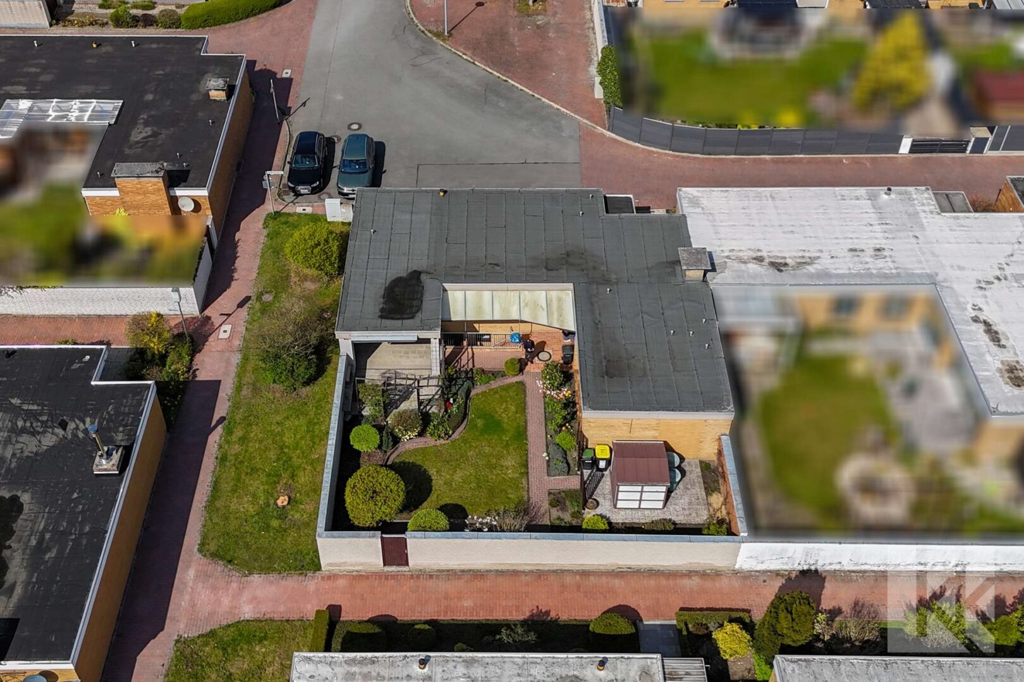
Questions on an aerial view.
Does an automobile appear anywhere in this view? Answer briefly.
Yes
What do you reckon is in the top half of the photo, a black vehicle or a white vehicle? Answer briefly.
black vehicle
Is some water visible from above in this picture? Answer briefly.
No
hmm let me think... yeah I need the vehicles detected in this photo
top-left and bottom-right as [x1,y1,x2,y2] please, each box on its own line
[286,131,329,192]
[334,132,376,197]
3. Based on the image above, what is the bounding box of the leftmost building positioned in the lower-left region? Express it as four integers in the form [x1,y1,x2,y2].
[0,344,164,682]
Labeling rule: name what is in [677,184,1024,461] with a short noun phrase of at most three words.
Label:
house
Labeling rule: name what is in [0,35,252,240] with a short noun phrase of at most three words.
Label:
house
